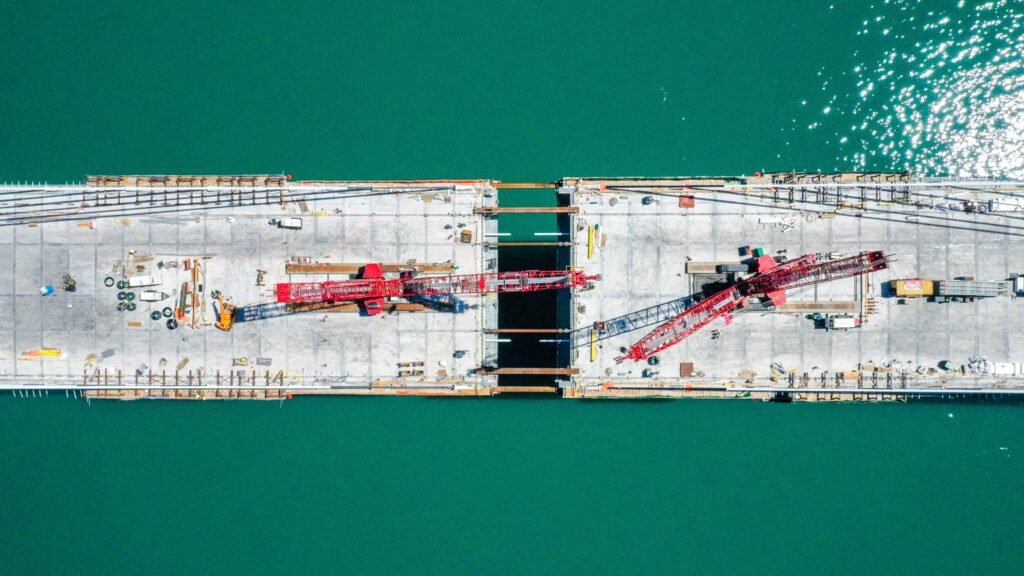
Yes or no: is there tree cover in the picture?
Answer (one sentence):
No, there's no tree cover in this view.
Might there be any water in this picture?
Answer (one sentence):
Yes, there is water in the image.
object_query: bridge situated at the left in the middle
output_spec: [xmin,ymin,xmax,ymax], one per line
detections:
[0,185,497,391]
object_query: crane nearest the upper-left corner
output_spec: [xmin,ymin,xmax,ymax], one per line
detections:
[269,262,603,313]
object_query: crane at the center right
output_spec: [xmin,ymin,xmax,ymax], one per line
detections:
[617,252,896,361]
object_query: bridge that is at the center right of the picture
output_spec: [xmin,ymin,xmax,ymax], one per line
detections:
[557,183,1024,393]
